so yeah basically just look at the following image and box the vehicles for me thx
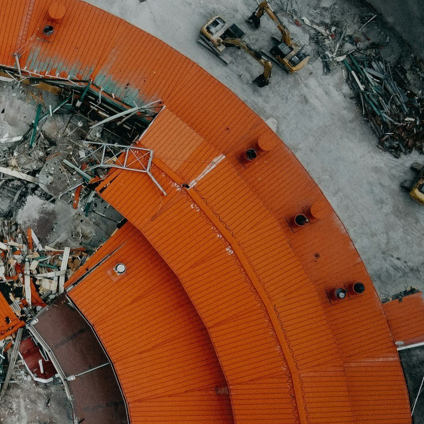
[248,0,311,81]
[186,14,272,88]
[399,166,424,206]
